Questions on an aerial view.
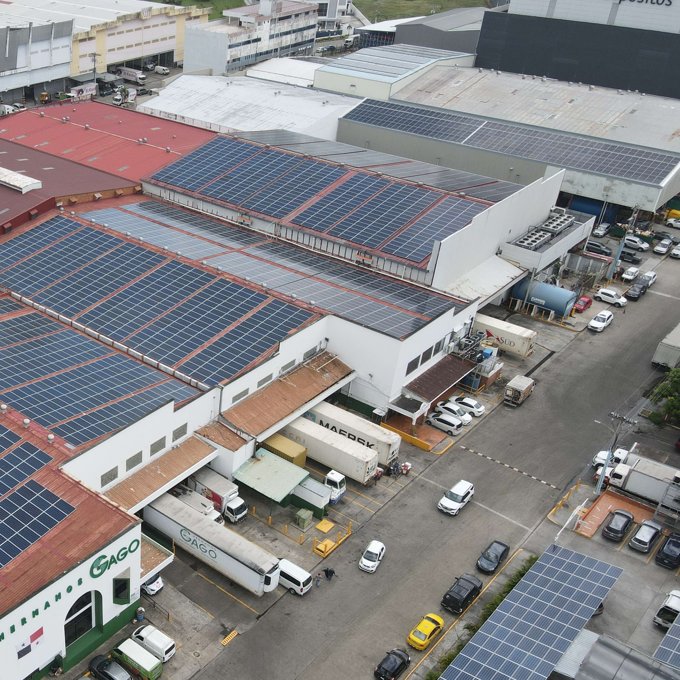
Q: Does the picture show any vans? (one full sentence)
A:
Yes, a van can be made out from above.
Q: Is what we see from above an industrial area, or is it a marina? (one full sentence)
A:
What you see here is an industrial area.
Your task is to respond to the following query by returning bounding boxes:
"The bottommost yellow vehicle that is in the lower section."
[405,613,443,655]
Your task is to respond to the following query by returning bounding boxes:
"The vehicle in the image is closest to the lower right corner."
[655,588,680,632]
